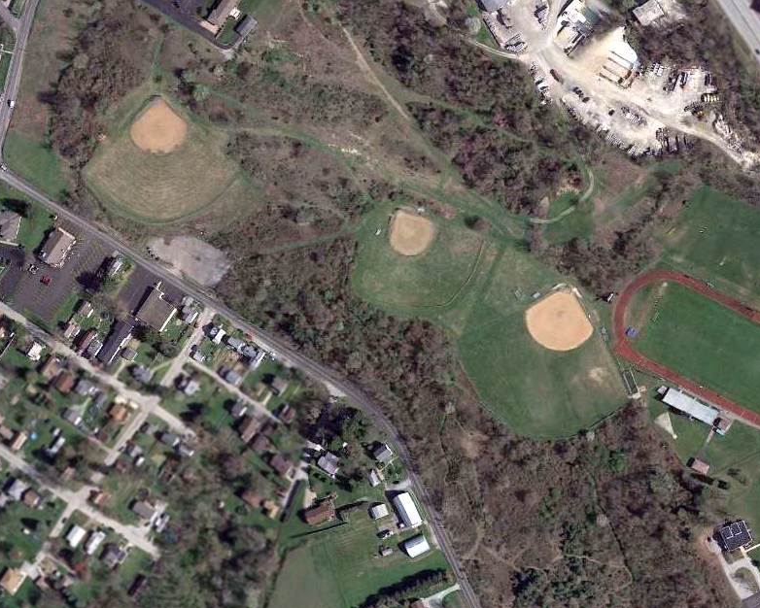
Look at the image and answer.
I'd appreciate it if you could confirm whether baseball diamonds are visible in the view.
Yes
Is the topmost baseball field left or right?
left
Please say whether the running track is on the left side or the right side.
right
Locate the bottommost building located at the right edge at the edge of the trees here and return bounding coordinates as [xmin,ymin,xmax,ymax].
[721,521,753,551]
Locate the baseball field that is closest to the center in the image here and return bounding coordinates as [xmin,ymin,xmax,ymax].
[354,202,487,308]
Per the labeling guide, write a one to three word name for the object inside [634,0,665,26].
building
